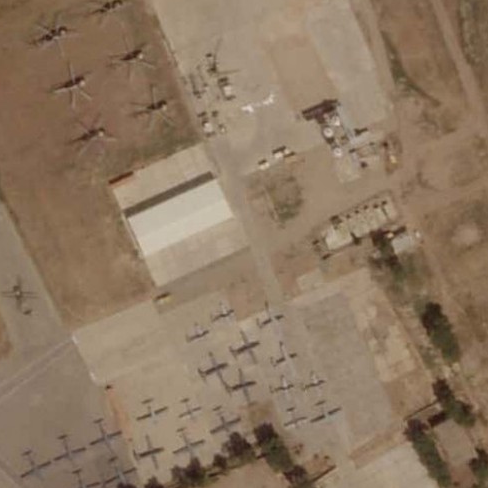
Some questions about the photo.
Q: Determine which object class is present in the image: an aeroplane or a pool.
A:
aeroplane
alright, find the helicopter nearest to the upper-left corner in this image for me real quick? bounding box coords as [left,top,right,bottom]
[30,13,77,53]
